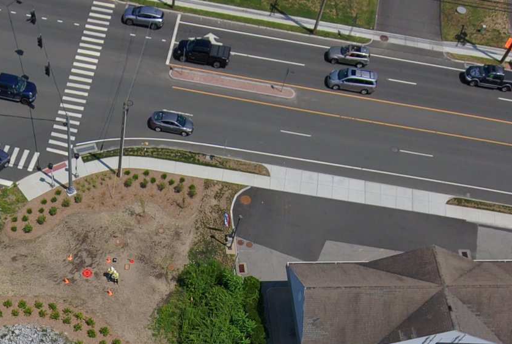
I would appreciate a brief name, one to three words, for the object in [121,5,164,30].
car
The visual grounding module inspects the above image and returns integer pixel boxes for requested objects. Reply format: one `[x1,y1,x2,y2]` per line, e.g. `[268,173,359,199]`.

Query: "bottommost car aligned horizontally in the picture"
[147,112,195,139]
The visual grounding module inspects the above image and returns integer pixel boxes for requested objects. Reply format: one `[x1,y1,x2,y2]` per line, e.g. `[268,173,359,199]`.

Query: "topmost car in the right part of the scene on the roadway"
[324,45,371,70]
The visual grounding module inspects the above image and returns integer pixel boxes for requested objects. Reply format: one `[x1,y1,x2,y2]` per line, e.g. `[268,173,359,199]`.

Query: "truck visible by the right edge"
[462,63,512,93]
